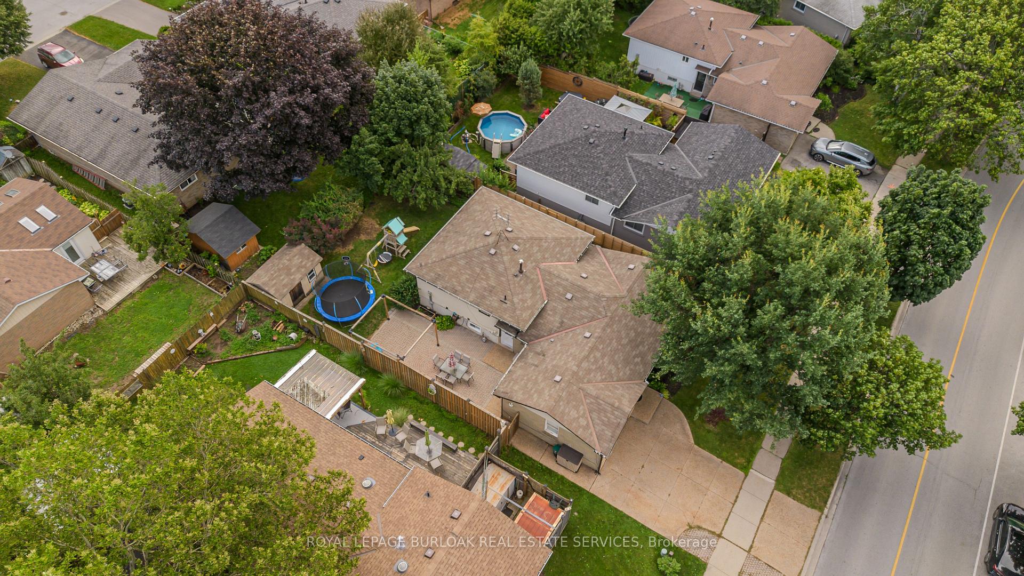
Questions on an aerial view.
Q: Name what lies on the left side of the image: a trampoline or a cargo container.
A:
trampoline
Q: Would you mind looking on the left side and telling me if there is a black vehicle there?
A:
No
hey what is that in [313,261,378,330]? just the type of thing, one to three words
trampoline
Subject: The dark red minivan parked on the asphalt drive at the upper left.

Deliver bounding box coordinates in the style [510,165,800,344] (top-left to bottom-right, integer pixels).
[35,40,87,69]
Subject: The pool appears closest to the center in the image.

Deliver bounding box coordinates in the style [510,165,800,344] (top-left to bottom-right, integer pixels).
[479,112,526,154]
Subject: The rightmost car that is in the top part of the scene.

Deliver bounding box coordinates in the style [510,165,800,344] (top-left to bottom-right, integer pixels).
[811,138,881,177]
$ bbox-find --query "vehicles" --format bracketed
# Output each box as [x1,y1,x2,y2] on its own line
[811,138,881,177]
[35,40,87,69]
[984,504,1024,576]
